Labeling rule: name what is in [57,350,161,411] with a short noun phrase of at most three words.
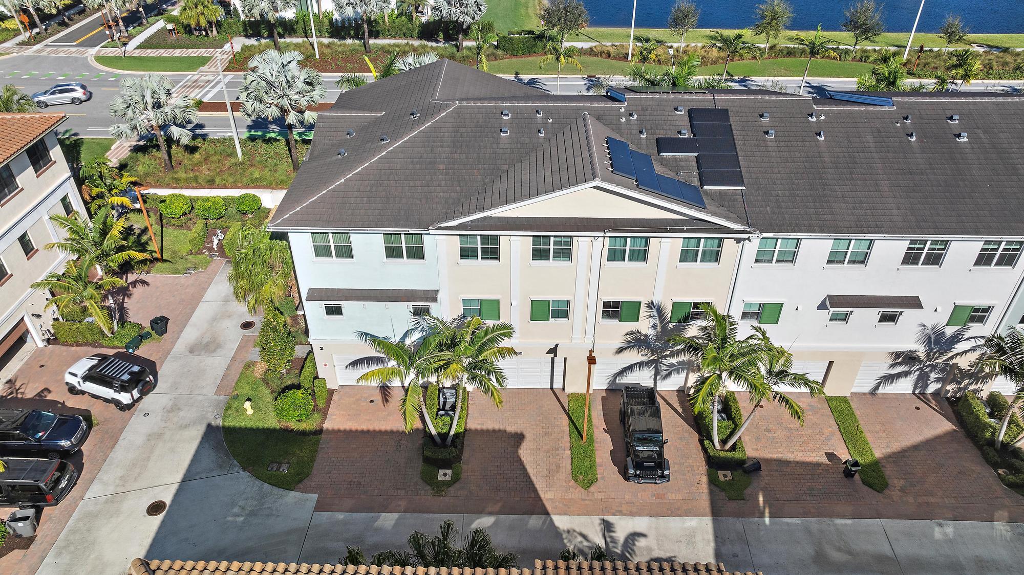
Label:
car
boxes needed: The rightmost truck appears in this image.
[617,380,673,484]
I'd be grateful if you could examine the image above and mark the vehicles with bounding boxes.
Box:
[617,380,673,484]
[26,78,92,109]
[0,444,77,508]
[57,350,161,411]
[0,400,89,453]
